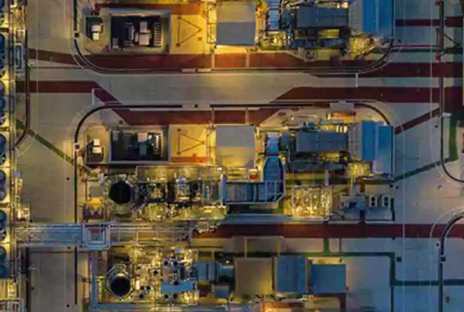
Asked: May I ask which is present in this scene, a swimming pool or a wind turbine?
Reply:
wind turbine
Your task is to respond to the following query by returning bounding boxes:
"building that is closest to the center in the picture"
[210,127,261,166]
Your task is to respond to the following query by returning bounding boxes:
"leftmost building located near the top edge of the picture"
[210,2,261,49]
